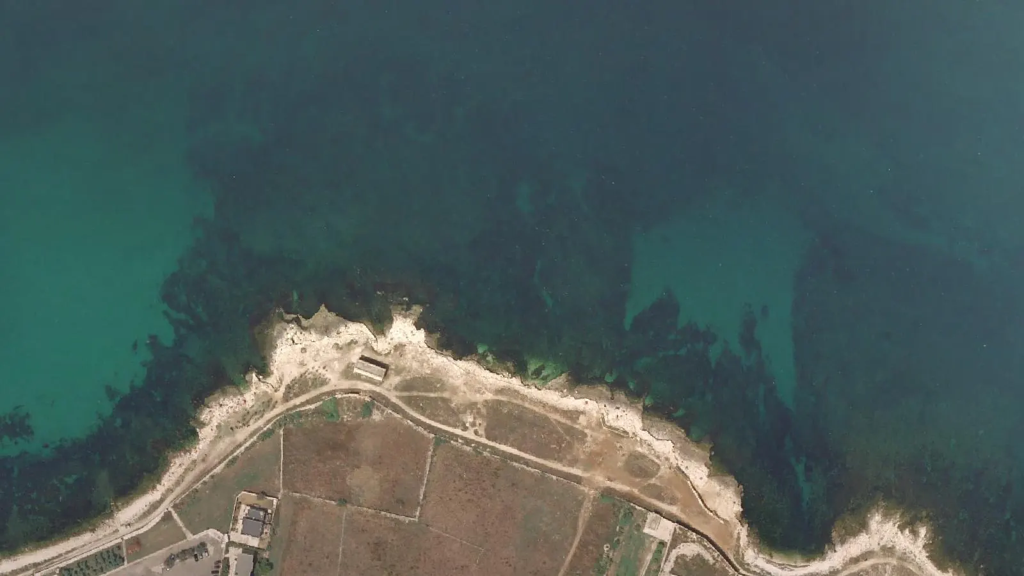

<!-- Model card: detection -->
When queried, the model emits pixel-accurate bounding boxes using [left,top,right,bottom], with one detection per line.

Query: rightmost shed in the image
[354,360,386,382]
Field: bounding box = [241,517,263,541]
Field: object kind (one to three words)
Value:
house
